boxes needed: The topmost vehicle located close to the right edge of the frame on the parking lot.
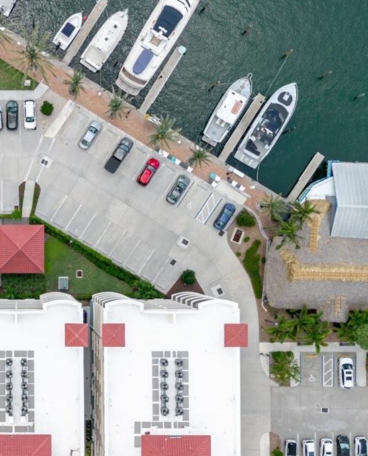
[337,355,355,389]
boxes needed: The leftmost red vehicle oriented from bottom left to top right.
[135,156,161,188]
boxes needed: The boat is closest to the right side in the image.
[231,84,299,173]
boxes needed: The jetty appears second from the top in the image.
[139,46,186,112]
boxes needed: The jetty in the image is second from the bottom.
[219,92,266,162]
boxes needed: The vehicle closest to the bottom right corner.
[352,435,368,456]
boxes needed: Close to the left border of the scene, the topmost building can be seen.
[0,224,45,274]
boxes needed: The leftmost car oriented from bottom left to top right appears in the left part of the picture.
[78,118,103,151]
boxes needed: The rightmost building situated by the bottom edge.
[86,295,248,456]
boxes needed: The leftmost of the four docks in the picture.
[63,0,110,66]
